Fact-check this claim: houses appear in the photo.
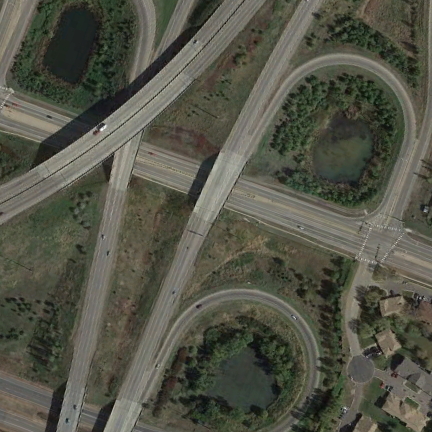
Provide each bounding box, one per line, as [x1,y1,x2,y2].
[390,353,432,399]
[376,330,403,356]
[382,391,430,431]
[347,414,378,432]
[416,299,432,324]
[380,296,407,315]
